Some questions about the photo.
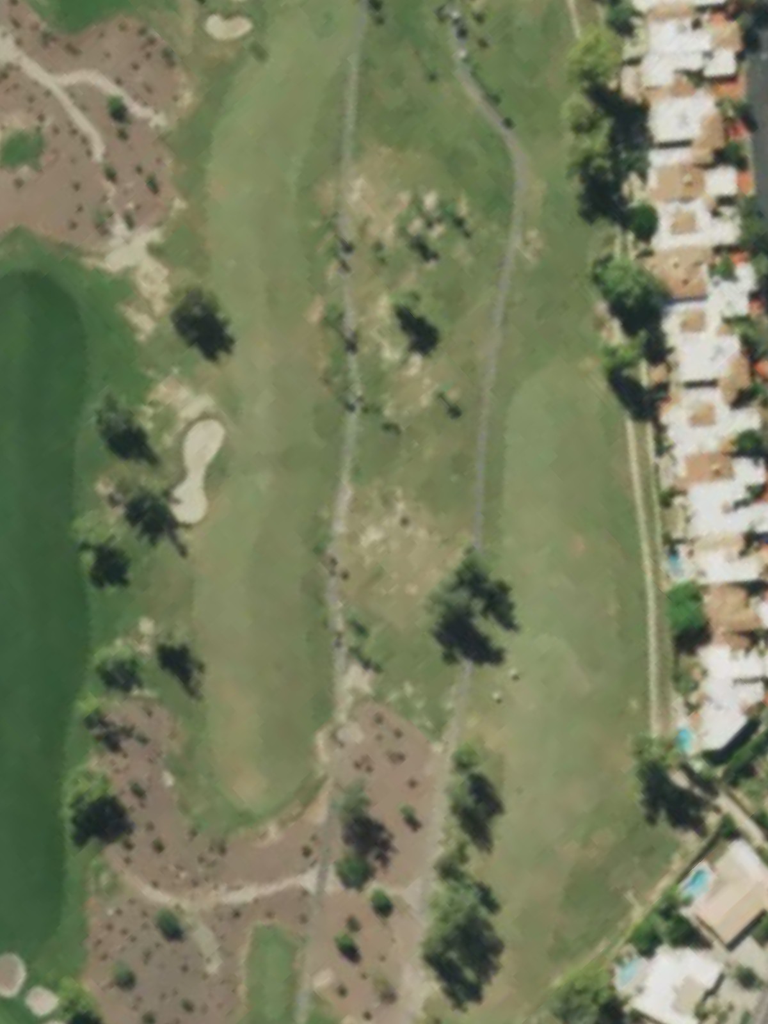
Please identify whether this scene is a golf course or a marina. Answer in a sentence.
It's a golf course.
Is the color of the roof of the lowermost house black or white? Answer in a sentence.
The color of the roof of the lowermost house is white.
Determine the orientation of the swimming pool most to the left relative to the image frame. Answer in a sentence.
The swimming pool most to the left has been laid out on a diagonal relative to the frame.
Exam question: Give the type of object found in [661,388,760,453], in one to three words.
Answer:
house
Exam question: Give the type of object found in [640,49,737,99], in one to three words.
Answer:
house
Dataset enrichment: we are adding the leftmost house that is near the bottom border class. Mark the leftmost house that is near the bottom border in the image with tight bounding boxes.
[628,949,723,1024]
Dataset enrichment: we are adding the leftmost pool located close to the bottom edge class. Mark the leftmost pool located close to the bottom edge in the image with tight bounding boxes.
[618,959,640,987]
